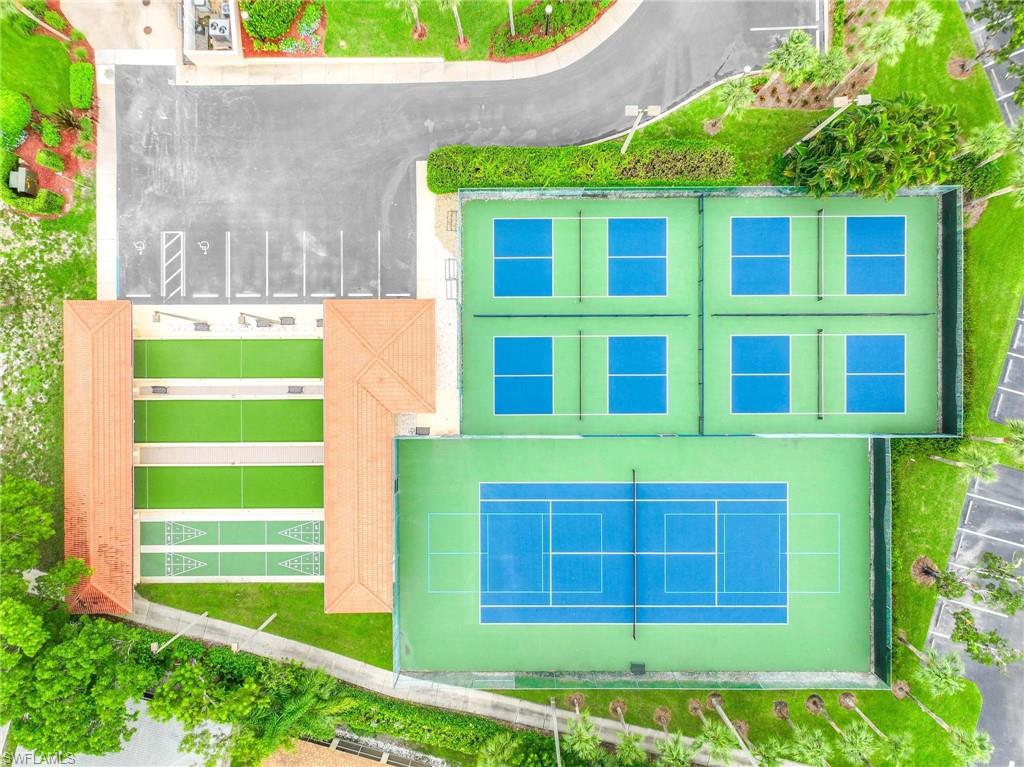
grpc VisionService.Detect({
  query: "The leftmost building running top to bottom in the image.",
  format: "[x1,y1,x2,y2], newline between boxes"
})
[63,300,135,615]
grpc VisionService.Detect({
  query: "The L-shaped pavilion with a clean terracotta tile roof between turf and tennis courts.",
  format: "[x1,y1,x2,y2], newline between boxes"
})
[323,299,436,614]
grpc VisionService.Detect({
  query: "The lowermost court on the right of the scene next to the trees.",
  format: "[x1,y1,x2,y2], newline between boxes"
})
[399,437,869,671]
